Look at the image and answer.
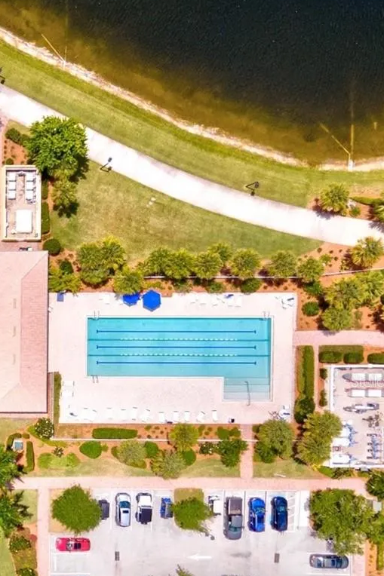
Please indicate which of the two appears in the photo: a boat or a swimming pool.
swimming pool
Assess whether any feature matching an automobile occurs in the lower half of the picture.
Yes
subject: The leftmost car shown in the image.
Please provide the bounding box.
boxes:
[54,536,90,552]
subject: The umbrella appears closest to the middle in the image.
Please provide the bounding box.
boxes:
[141,290,160,311]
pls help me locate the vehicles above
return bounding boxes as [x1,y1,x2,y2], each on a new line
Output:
[54,536,90,552]
[157,496,172,517]
[206,494,221,515]
[246,497,265,531]
[114,491,133,527]
[223,496,244,538]
[269,496,289,531]
[95,497,110,518]
[134,492,152,524]
[307,552,347,569]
